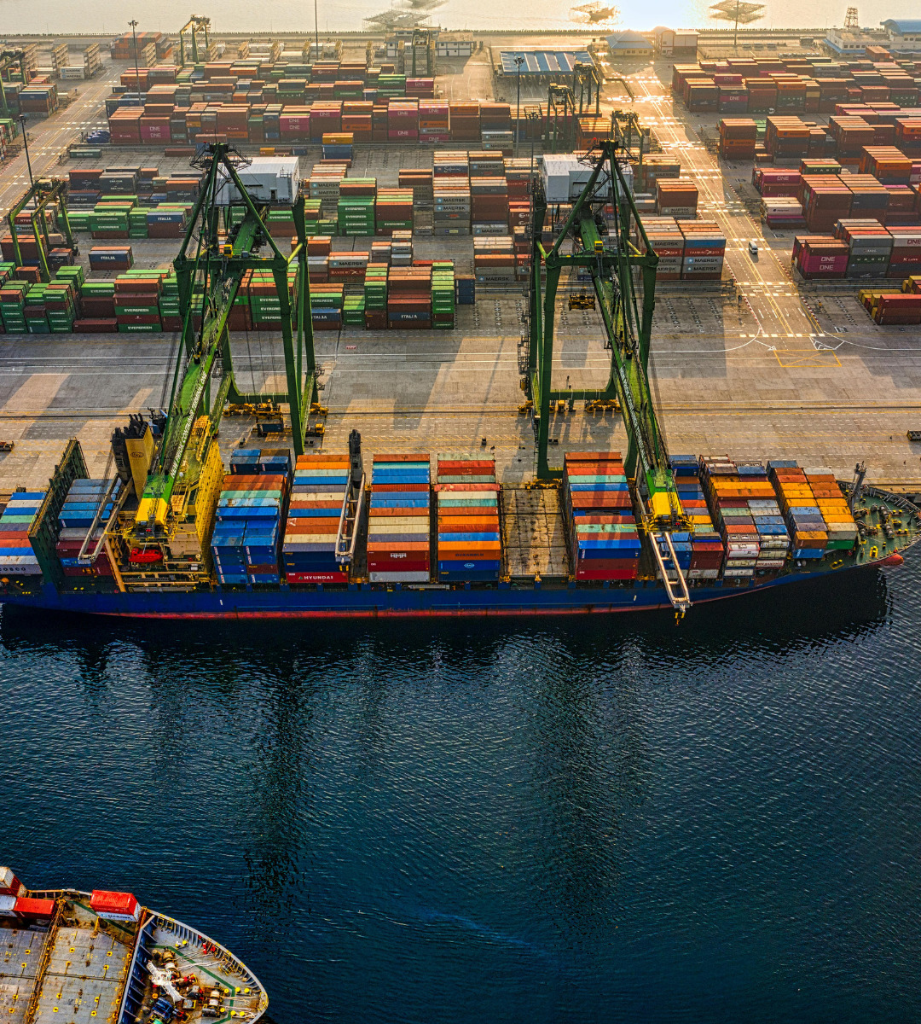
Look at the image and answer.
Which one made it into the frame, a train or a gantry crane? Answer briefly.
gantry crane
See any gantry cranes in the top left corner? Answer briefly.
Yes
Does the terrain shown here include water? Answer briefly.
Yes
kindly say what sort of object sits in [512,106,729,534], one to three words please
container crane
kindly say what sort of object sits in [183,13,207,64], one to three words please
container crane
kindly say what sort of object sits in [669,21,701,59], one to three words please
building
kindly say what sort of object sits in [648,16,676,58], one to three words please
building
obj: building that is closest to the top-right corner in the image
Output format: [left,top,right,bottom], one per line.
[863,3,921,50]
